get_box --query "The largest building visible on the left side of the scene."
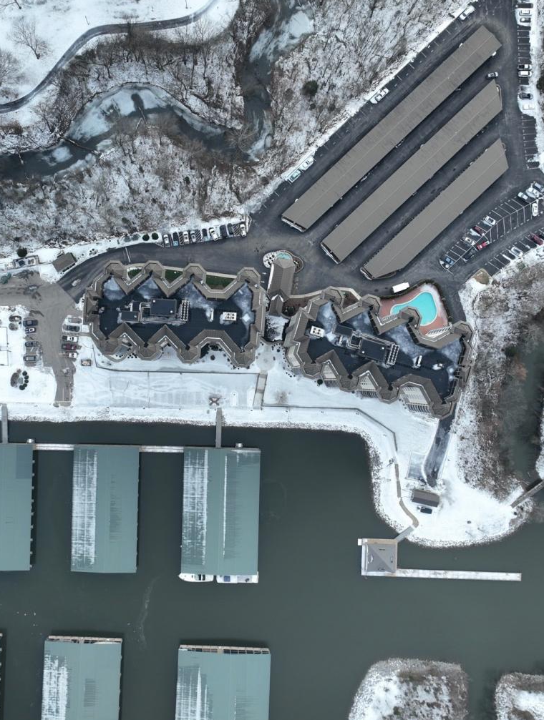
[89,261,268,368]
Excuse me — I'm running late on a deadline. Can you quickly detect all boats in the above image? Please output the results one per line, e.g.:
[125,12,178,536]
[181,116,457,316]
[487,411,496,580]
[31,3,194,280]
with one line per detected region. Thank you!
[179,573,213,582]
[218,574,257,584]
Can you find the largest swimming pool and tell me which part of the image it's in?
right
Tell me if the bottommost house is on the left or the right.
right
